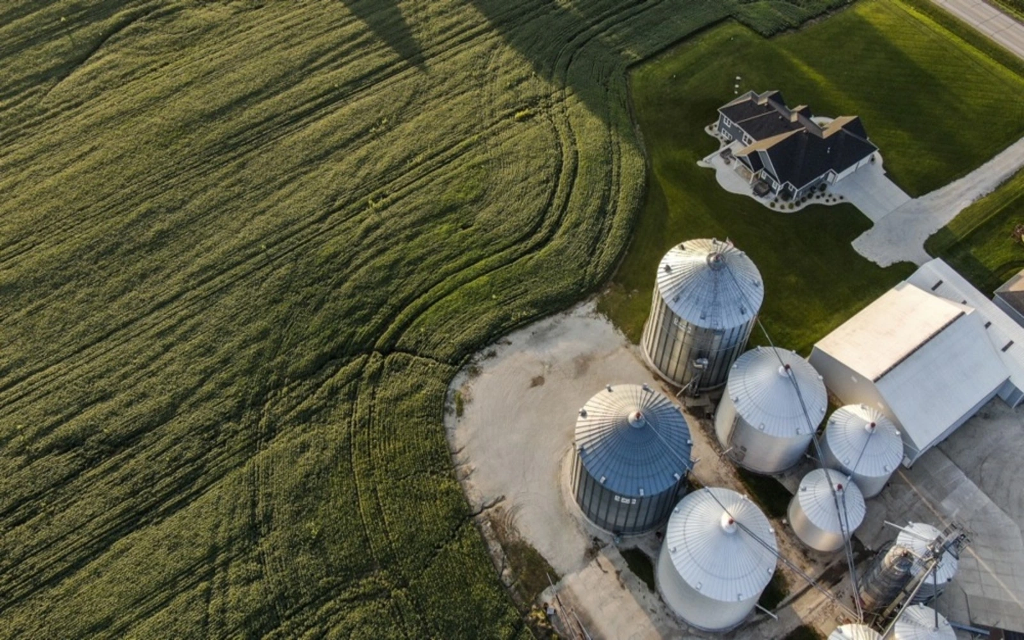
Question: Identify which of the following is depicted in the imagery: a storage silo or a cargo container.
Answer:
storage silo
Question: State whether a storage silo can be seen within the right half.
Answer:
Yes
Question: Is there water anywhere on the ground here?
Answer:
No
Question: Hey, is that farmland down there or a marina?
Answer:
farmland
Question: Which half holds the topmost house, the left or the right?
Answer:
right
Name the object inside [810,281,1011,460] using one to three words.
barn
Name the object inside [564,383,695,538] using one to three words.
silo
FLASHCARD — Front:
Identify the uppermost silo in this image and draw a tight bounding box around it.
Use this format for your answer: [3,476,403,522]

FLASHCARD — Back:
[642,235,765,390]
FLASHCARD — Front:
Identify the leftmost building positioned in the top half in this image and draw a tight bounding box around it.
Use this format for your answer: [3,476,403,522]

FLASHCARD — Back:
[716,89,879,203]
